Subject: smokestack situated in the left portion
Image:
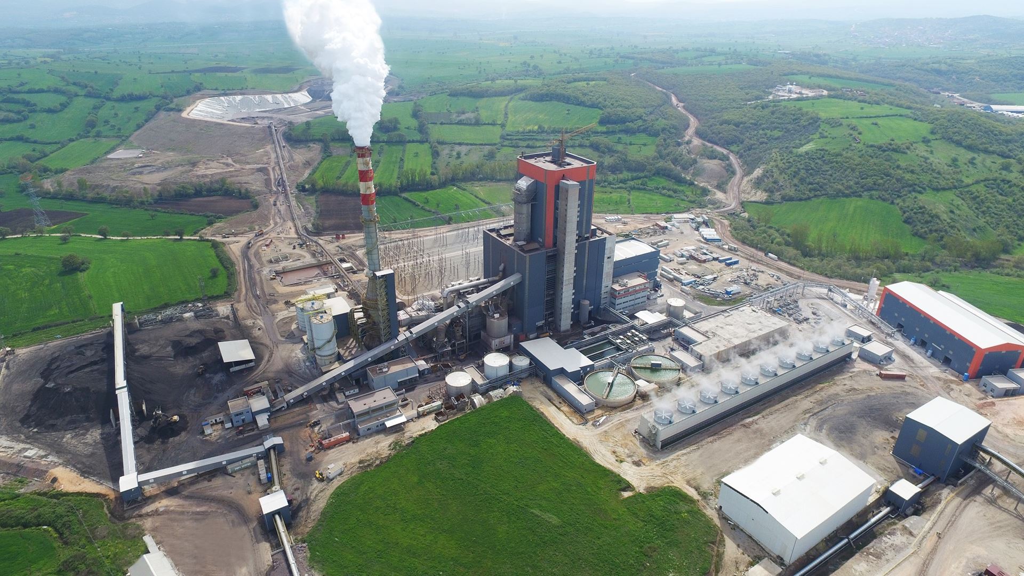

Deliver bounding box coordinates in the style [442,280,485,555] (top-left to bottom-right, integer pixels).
[355,146,384,347]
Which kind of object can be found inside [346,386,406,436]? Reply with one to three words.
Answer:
building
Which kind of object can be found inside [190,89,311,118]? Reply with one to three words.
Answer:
pond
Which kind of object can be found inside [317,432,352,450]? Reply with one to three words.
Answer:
vehicle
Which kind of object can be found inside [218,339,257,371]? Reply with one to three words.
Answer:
shed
